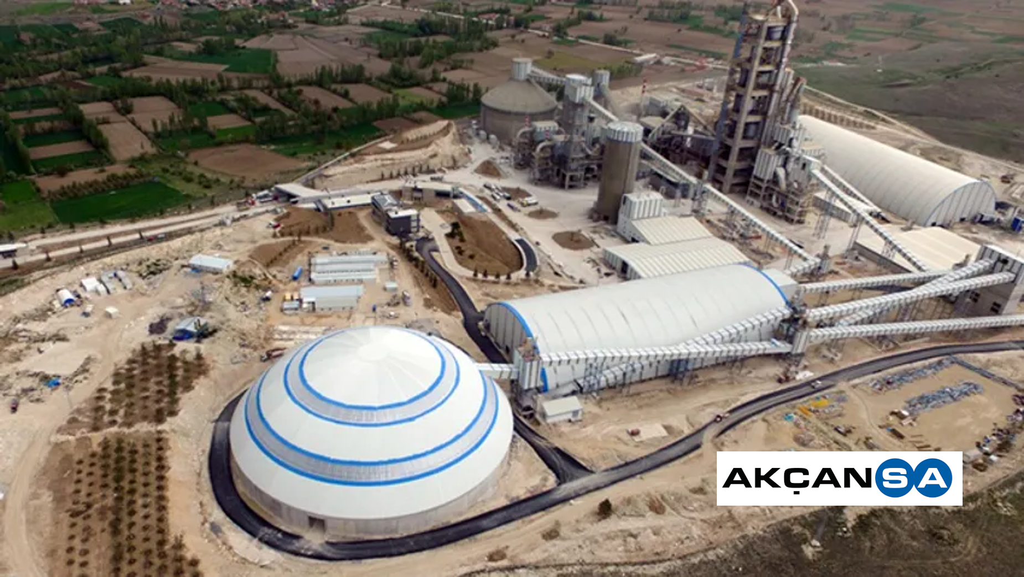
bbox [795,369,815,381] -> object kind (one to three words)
vehicle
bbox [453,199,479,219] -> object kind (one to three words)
building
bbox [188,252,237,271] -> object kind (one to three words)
shed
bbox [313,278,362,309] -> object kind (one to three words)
building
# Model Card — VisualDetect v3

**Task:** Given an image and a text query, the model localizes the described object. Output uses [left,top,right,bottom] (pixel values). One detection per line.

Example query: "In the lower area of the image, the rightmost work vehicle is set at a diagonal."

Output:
[998,400,1022,418]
